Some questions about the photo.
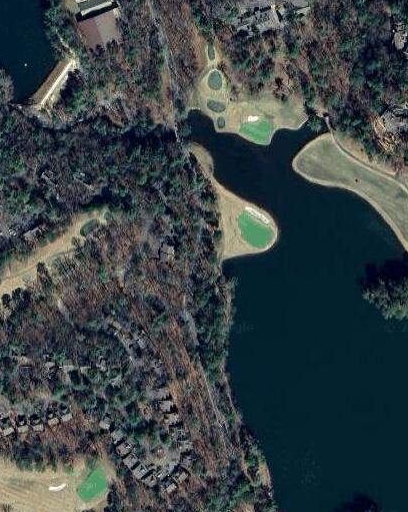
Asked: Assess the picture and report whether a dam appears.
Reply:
Yes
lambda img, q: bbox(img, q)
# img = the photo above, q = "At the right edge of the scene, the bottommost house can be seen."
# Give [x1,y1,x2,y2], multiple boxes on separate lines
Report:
[374,108,408,137]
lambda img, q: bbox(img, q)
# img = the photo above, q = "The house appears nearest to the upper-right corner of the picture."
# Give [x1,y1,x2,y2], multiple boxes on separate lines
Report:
[393,21,408,49]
